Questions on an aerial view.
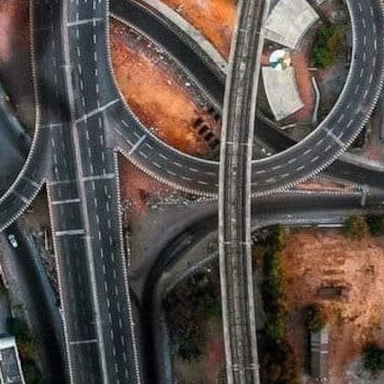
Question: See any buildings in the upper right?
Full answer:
Yes, the scene does show a building in the upper right.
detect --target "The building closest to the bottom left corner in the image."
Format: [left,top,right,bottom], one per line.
[0,332,27,384]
